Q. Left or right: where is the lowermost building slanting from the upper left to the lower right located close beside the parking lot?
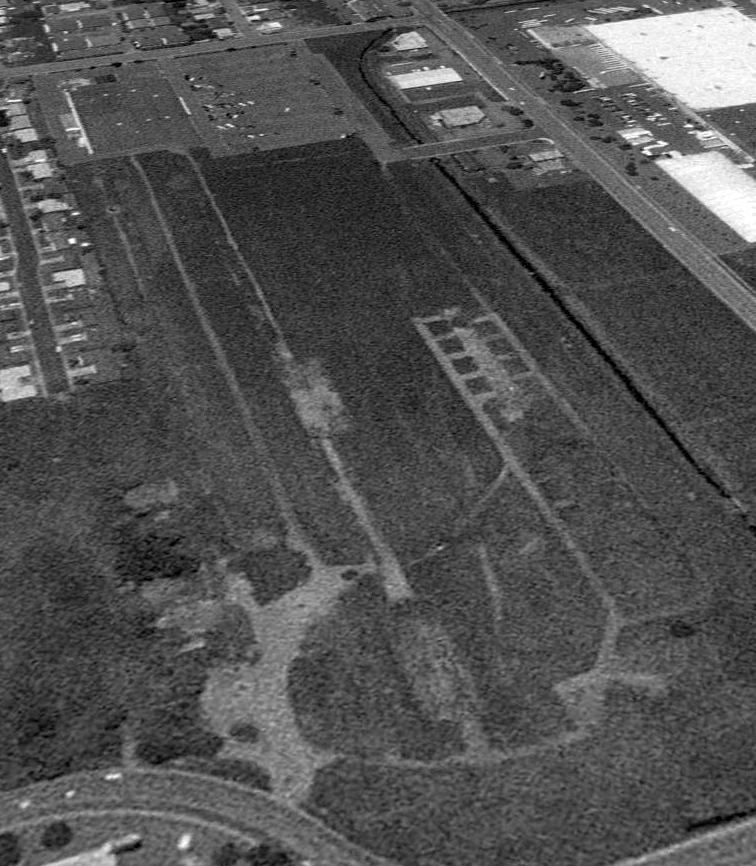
right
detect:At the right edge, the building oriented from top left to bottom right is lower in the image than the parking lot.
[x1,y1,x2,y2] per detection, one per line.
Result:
[654,151,756,245]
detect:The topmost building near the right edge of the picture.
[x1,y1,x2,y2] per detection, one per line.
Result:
[585,7,756,112]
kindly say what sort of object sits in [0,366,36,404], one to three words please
house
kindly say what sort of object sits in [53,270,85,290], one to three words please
house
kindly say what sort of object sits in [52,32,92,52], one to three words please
building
